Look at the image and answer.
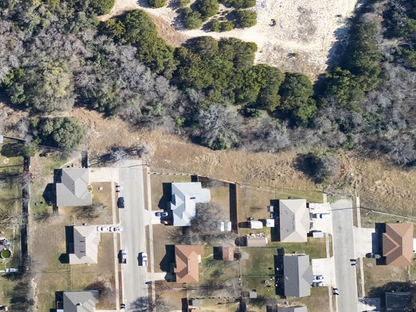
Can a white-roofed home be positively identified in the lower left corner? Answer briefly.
Yes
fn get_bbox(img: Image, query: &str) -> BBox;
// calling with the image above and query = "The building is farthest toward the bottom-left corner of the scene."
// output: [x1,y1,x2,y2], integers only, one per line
[56,289,99,312]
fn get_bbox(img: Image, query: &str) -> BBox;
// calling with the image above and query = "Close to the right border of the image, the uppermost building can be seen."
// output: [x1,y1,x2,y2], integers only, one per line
[380,222,416,266]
